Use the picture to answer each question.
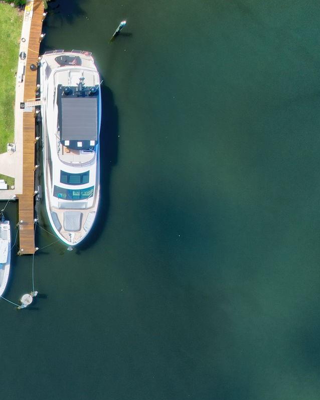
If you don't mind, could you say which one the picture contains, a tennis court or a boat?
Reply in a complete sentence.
There is a boat in the scene.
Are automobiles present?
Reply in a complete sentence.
No, I can see no automobile in this picture.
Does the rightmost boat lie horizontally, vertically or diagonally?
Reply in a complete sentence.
The rightmost boat has been laid out vertically relative to the frame.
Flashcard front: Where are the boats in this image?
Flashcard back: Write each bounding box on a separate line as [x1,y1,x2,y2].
[0,209,10,296]
[39,48,101,249]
